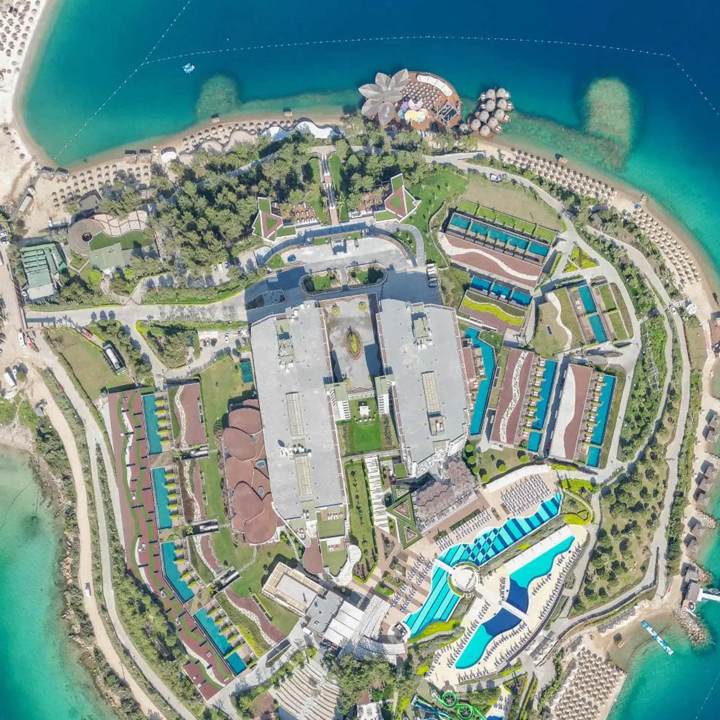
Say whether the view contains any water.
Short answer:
Yes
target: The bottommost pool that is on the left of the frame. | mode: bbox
[227,652,246,673]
